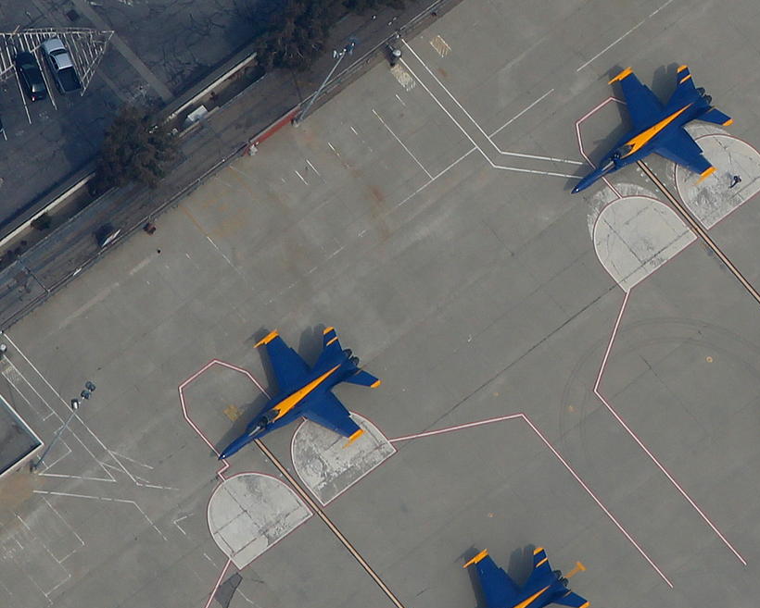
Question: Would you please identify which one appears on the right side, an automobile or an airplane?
airplane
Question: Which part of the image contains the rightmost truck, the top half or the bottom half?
top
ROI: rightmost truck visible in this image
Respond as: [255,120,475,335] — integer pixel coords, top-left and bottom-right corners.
[40,36,84,98]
